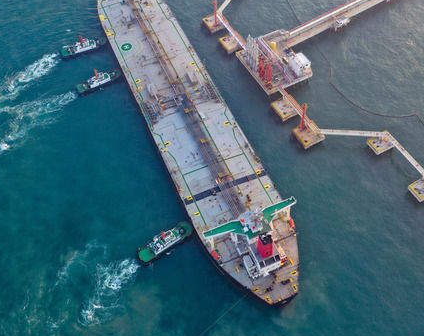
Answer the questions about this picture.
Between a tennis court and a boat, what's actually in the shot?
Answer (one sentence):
Visible in the photo is a boat.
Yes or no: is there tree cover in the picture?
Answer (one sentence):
No, the scene doesn't show any tree cover.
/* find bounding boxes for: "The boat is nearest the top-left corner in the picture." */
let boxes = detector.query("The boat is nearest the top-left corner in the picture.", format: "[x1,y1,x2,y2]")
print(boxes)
[58,36,107,62]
